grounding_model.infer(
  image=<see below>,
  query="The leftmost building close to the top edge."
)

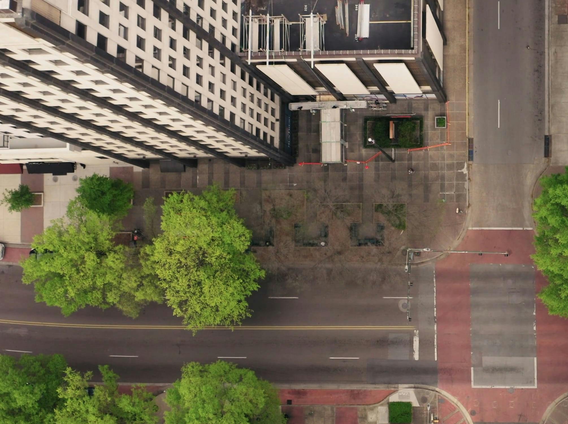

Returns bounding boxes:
[0,0,296,167]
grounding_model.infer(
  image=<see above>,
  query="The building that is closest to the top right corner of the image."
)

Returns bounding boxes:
[236,0,441,96]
